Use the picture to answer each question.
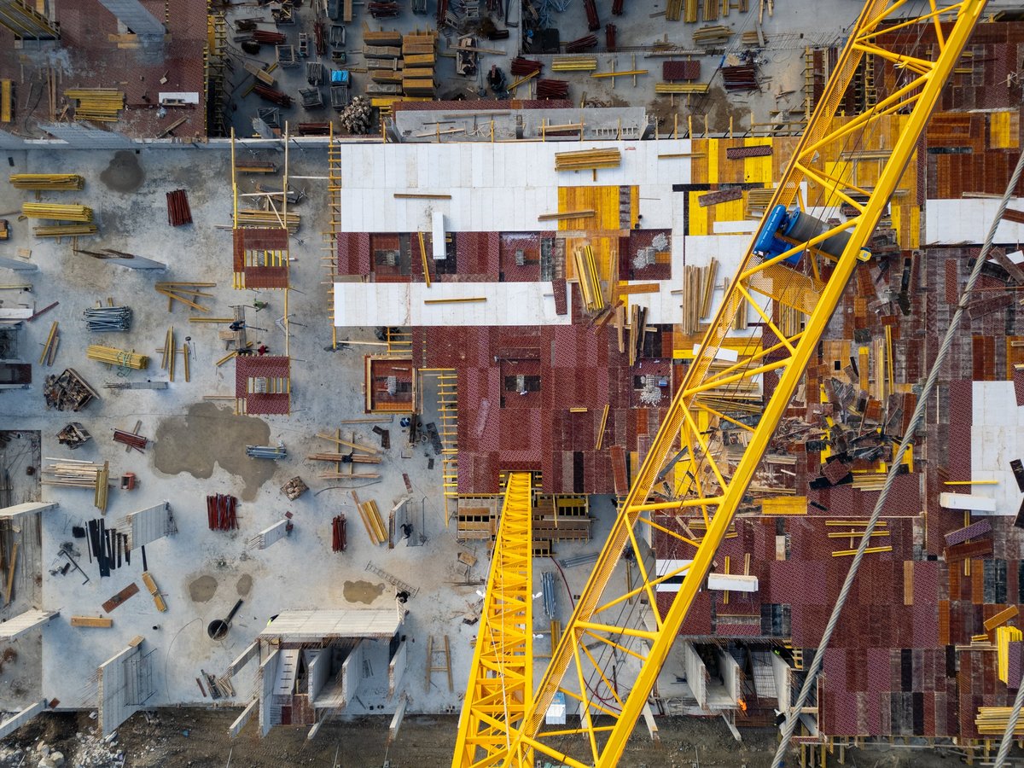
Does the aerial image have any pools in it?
No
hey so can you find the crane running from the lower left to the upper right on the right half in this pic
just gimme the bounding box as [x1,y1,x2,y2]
[449,0,983,768]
